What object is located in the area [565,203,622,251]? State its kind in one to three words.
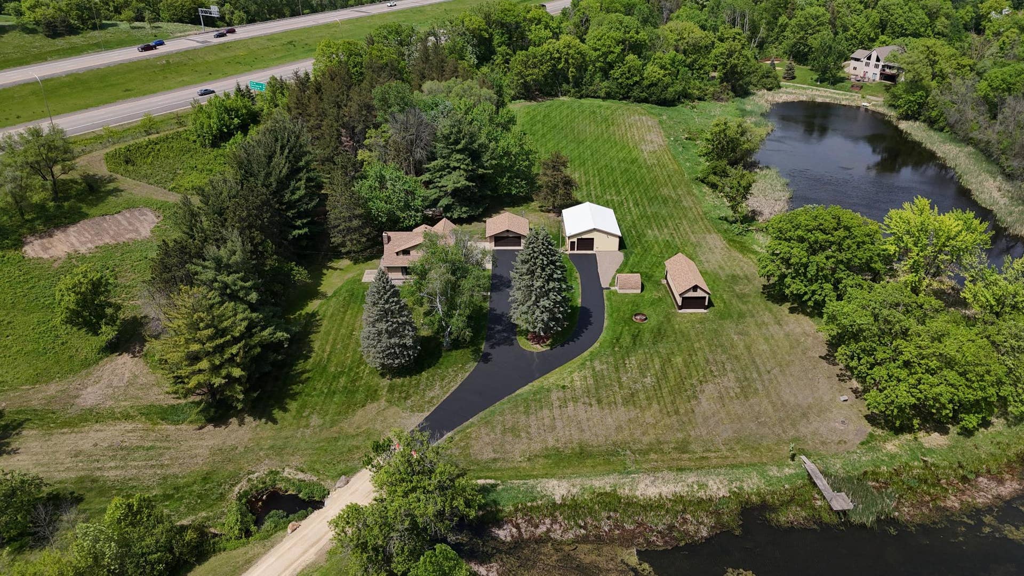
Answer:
barn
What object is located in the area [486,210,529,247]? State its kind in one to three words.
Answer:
building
